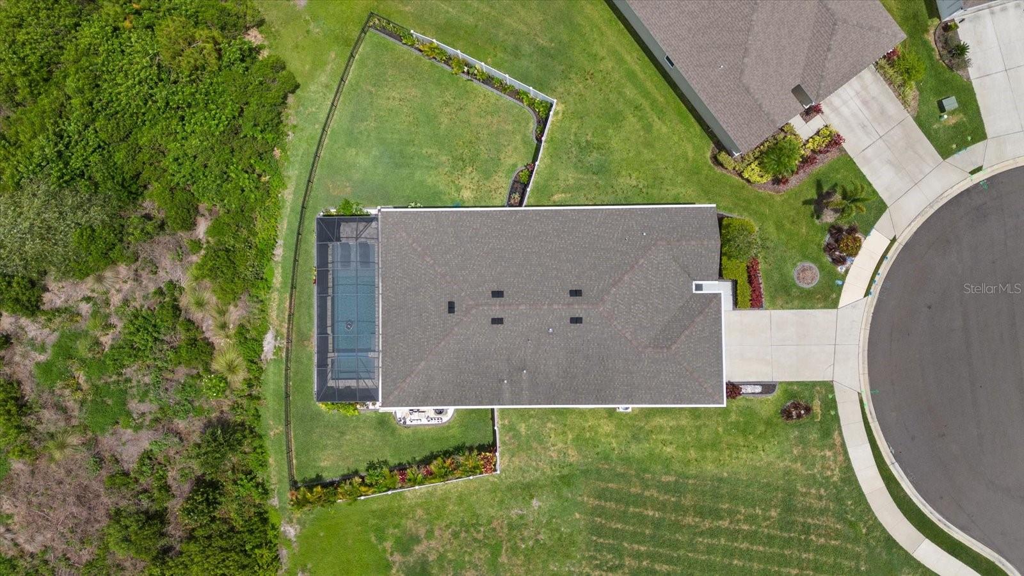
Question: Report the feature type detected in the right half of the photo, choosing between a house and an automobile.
house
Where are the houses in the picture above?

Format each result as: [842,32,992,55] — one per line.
[378,204,726,410]
[614,0,907,158]
[934,0,1024,23]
